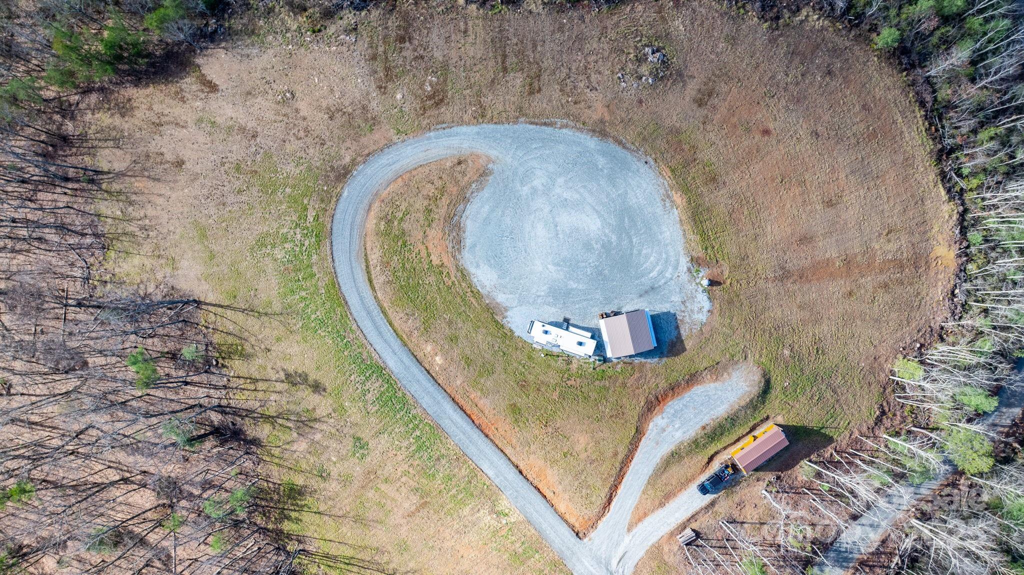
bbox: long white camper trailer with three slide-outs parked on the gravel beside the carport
[527,319,597,358]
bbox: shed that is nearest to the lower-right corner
[732,425,792,475]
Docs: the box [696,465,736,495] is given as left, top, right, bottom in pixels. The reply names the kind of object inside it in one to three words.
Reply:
truck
